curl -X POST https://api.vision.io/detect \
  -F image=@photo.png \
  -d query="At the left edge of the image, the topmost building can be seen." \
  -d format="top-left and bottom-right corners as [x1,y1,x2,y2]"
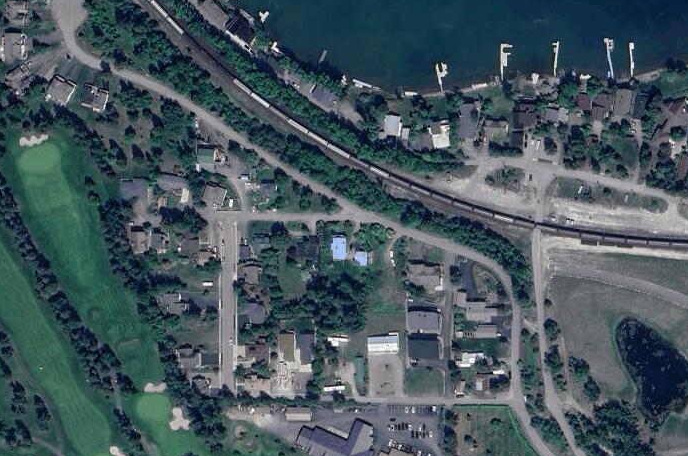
[6,1,28,25]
